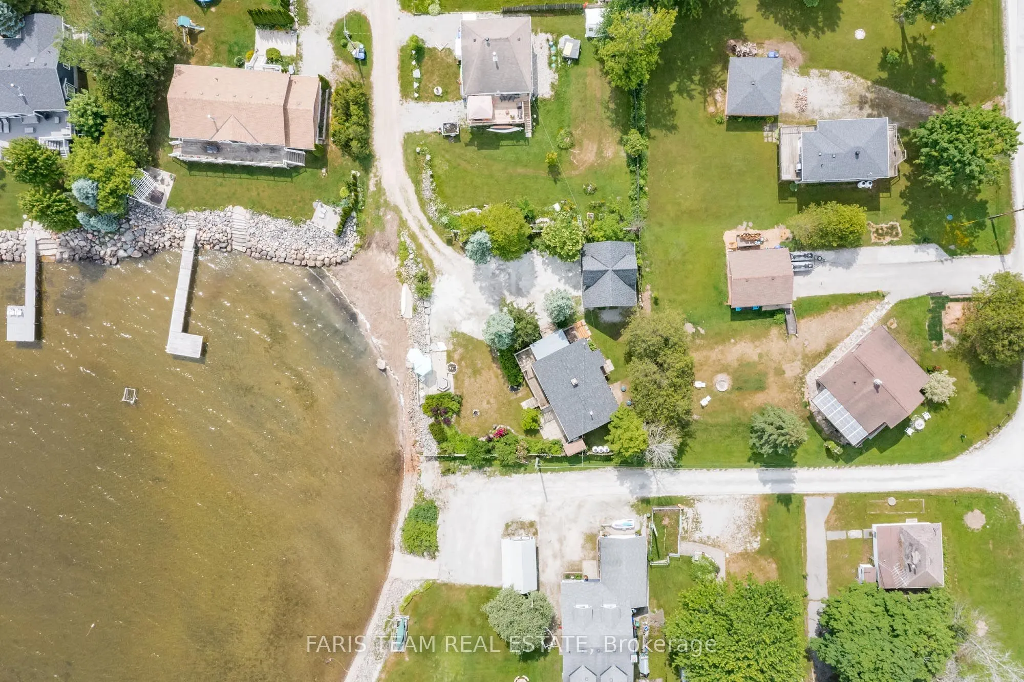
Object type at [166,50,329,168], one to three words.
house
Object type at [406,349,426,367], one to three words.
umbrella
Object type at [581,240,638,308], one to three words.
building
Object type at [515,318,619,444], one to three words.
house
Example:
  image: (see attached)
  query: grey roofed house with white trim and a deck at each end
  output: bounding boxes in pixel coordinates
[778,117,910,185]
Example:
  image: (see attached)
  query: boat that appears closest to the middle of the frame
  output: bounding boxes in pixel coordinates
[400,284,413,319]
